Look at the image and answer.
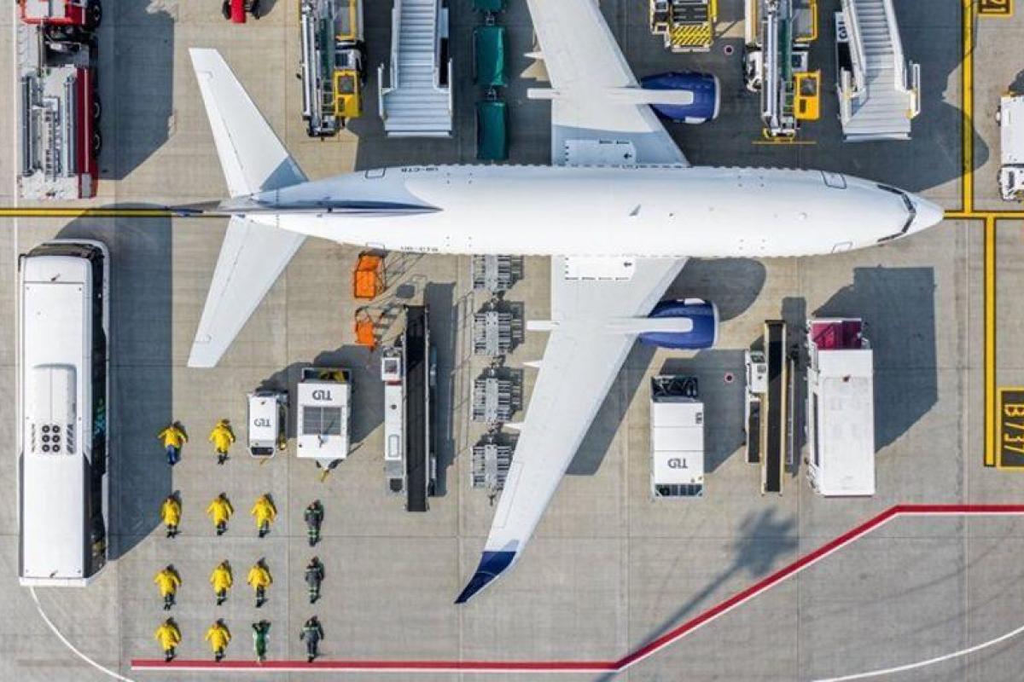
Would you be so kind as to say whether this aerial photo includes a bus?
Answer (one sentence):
Yes, a bus can be made out from above.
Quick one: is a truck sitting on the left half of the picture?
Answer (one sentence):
Yes, there is a truck on the left half of the picture.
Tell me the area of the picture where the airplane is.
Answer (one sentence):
You can find the airplane in the center area of the picture.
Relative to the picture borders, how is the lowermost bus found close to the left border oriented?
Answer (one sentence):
Seen from above, the lowermost bus found close to the left border lies from top to bottom.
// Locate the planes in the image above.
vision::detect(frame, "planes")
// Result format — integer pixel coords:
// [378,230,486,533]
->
[167,0,942,604]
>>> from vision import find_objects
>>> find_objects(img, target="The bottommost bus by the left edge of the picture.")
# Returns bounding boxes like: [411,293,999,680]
[17,240,111,586]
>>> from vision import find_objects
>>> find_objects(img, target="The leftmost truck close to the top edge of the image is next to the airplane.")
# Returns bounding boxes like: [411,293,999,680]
[20,0,102,203]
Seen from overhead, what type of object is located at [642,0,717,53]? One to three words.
work vehicle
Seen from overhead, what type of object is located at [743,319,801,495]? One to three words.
work vehicle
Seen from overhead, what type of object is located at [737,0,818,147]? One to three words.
truck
